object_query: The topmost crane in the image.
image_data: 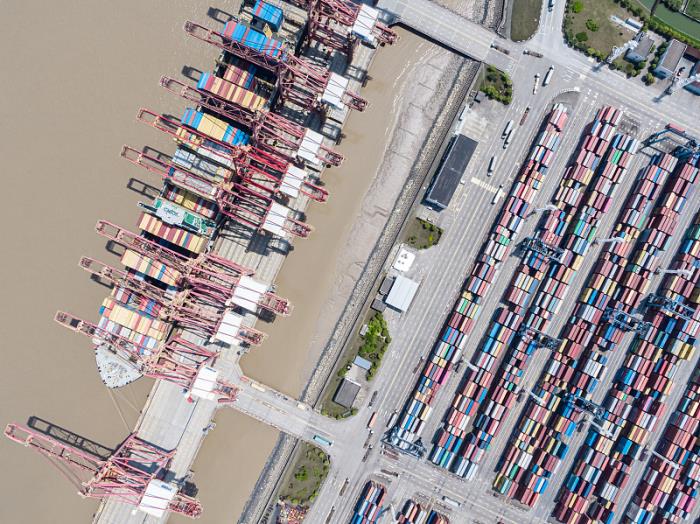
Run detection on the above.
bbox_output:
[282,0,404,65]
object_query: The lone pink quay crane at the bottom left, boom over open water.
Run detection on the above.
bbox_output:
[5,418,197,518]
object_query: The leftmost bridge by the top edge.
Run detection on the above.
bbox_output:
[362,0,511,70]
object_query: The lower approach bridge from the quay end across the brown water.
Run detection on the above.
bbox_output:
[216,378,318,441]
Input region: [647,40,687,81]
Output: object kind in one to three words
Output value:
building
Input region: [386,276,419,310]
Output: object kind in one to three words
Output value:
shed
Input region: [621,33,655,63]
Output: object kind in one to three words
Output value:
building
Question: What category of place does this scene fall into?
port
